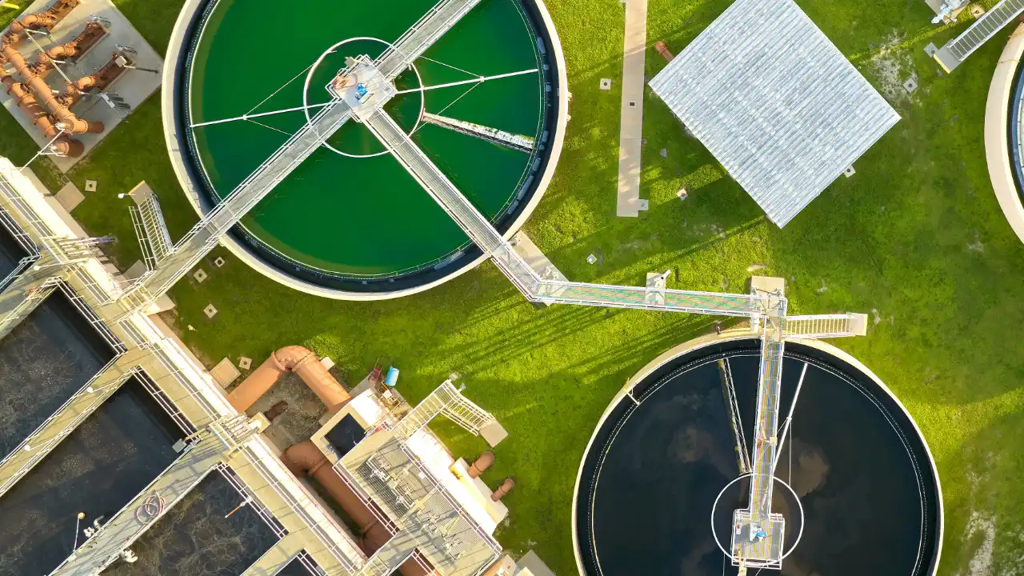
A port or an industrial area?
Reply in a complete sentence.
This looks like an industrial area.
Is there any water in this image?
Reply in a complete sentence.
Yes, there is water in the image.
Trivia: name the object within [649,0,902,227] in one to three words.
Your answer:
shed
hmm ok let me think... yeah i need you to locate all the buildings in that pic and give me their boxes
[649,0,902,227]
[310,389,510,576]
